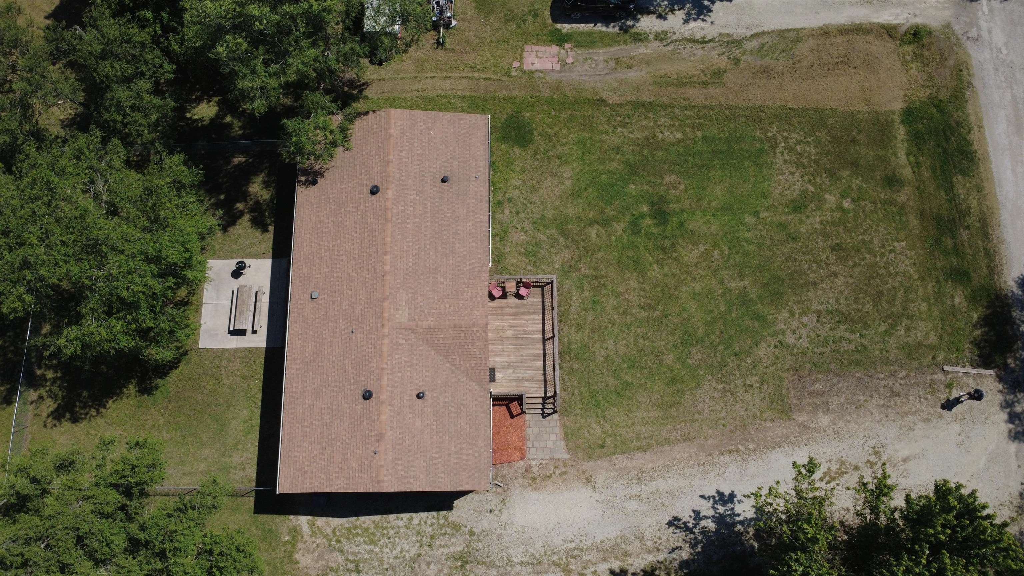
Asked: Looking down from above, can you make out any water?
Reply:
No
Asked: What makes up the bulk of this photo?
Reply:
grass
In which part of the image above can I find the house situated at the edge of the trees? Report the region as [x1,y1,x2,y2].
[277,109,493,494]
